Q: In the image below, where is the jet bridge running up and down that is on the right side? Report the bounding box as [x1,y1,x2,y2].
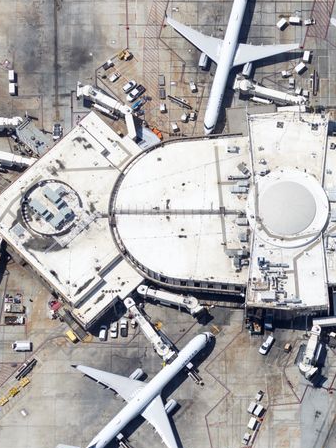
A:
[297,324,322,379]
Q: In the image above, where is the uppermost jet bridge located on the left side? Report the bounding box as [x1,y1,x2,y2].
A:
[79,83,133,119]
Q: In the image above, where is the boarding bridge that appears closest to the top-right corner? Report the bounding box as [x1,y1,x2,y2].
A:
[231,75,310,110]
